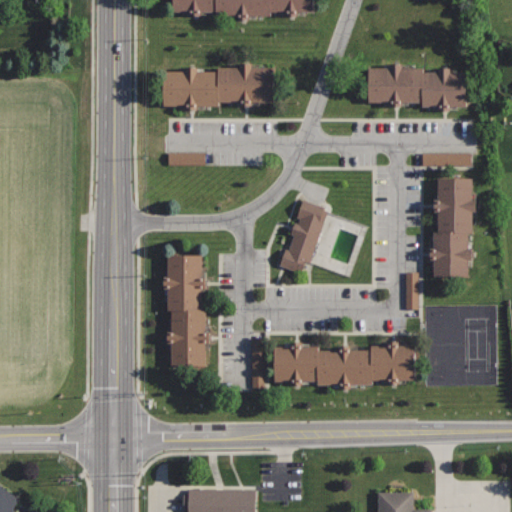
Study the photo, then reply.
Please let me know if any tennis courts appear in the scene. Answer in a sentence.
Yes, a tennis court appears in the view.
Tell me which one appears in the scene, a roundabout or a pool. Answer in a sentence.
Visible in the photo is a pool.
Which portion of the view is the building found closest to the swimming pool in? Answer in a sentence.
The building found closest to the swimming pool sits in the center section of the image.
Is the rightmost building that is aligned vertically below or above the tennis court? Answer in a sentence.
Looking at the photo, you'll find the rightmost building that is aligned vertically above the tennis court.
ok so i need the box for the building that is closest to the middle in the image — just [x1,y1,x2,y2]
[280,200,328,272]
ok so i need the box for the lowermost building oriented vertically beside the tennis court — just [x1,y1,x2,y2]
[406,274,419,310]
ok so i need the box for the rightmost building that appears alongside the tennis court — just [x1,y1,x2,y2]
[430,178,476,277]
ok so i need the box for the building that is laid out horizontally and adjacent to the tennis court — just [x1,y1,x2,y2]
[274,343,415,390]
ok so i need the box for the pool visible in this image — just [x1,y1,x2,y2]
[312,212,368,278]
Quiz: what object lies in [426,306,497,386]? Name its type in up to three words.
tennis court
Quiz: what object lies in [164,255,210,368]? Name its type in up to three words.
building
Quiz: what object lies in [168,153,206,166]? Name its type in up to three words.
building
